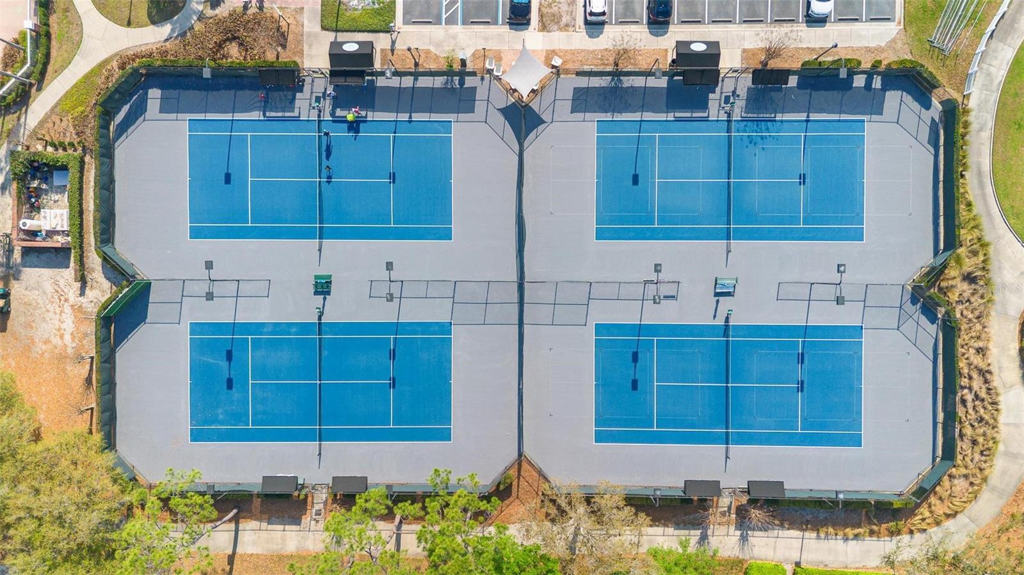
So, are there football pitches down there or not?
No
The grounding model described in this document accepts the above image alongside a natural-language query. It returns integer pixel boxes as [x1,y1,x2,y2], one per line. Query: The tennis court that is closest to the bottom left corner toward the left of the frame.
[189,321,452,443]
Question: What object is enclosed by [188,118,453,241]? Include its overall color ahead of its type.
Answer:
blue tennis court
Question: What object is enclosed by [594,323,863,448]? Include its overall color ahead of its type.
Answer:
blue tennis court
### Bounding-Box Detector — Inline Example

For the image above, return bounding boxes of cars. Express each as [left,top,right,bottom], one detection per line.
[810,0,835,17]
[507,0,533,20]
[586,0,607,21]
[651,0,673,19]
